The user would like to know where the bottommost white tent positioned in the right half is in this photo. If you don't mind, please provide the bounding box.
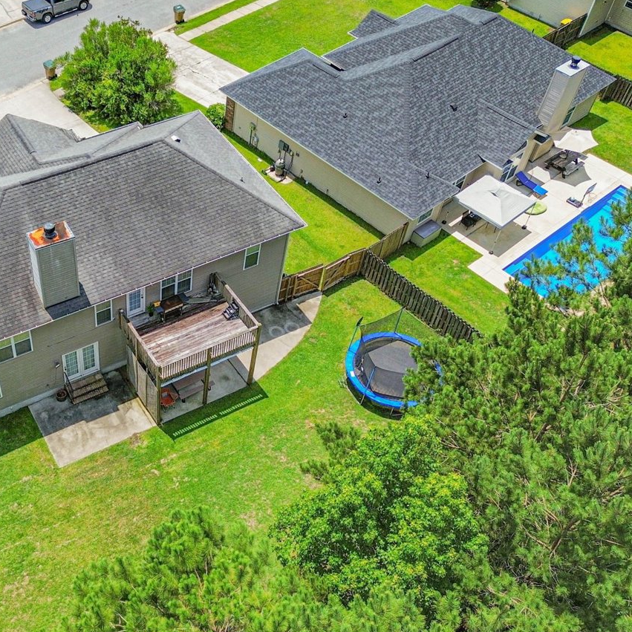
[440,175,539,261]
